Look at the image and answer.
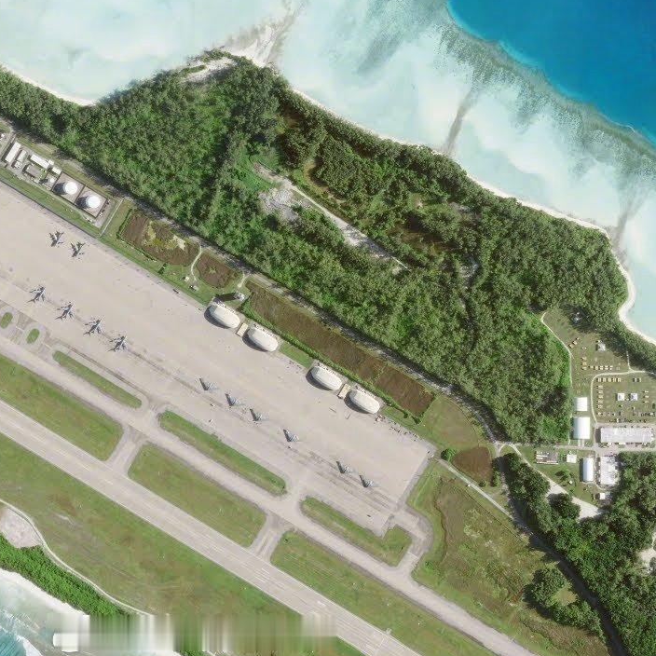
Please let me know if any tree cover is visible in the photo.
Yes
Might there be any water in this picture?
Yes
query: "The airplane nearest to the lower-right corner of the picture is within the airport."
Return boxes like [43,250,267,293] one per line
[360,473,381,487]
